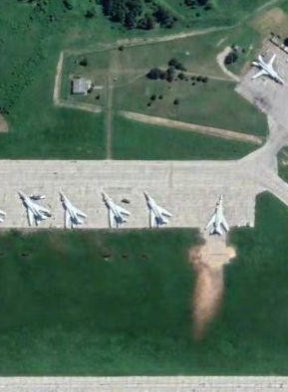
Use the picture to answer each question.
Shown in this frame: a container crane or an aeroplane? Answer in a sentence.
It is an aeroplane that can be seen here.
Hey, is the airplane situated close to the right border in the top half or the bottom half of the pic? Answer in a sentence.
You can find the airplane situated close to the right border in the top half.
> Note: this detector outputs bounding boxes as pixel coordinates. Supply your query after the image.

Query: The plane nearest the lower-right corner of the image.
[204,194,230,237]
